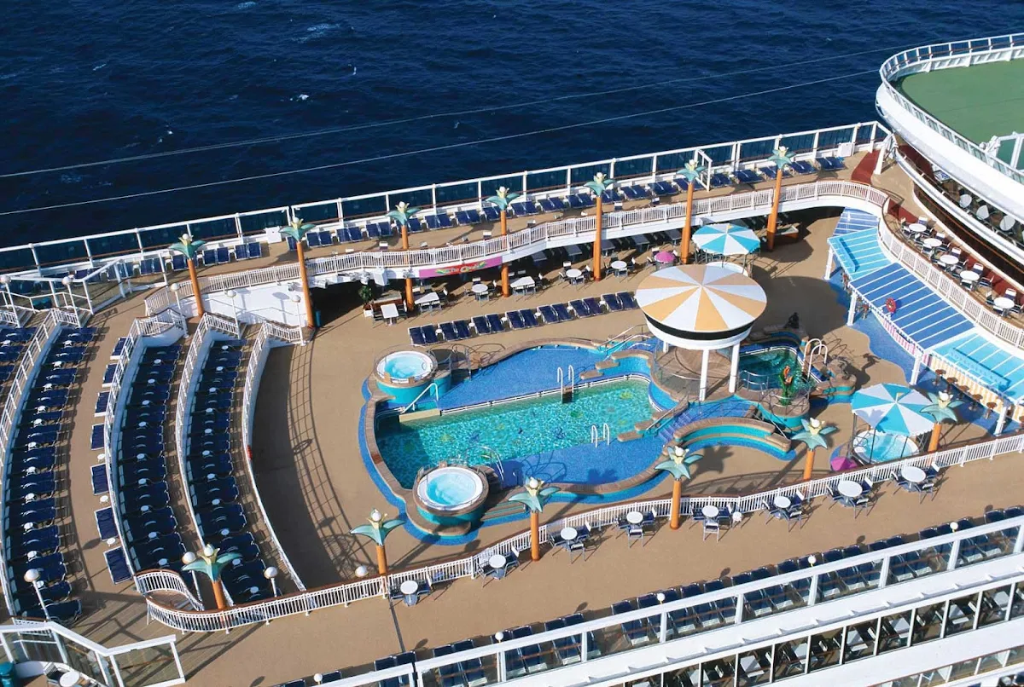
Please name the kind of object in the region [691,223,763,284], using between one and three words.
umbrella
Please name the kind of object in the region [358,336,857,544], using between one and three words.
swimming pool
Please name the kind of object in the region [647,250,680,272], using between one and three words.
umbrella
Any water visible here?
Yes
